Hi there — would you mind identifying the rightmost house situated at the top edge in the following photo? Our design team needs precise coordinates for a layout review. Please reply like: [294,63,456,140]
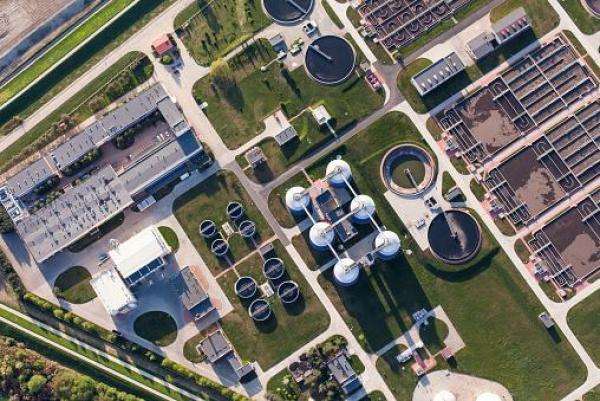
[489,8,532,46]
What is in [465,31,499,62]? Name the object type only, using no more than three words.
building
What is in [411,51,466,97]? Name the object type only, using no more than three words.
house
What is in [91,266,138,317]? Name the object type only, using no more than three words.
shed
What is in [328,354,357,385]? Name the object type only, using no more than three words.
house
